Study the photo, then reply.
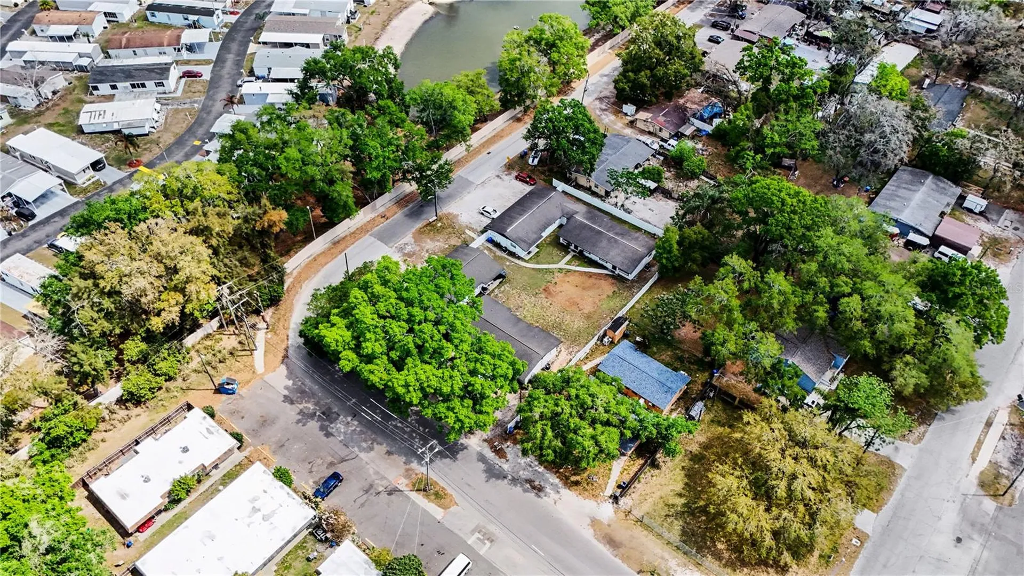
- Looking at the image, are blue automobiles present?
Yes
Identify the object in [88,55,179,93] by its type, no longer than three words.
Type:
house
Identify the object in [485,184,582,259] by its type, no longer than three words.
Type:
building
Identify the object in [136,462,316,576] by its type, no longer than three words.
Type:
building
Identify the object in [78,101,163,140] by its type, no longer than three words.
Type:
house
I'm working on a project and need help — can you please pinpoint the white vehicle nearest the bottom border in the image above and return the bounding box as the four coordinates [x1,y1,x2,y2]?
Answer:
[437,550,470,576]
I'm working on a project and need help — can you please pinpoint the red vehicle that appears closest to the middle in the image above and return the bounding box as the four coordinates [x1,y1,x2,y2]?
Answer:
[516,172,535,184]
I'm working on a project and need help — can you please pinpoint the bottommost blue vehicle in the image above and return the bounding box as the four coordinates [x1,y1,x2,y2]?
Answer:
[312,470,341,501]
